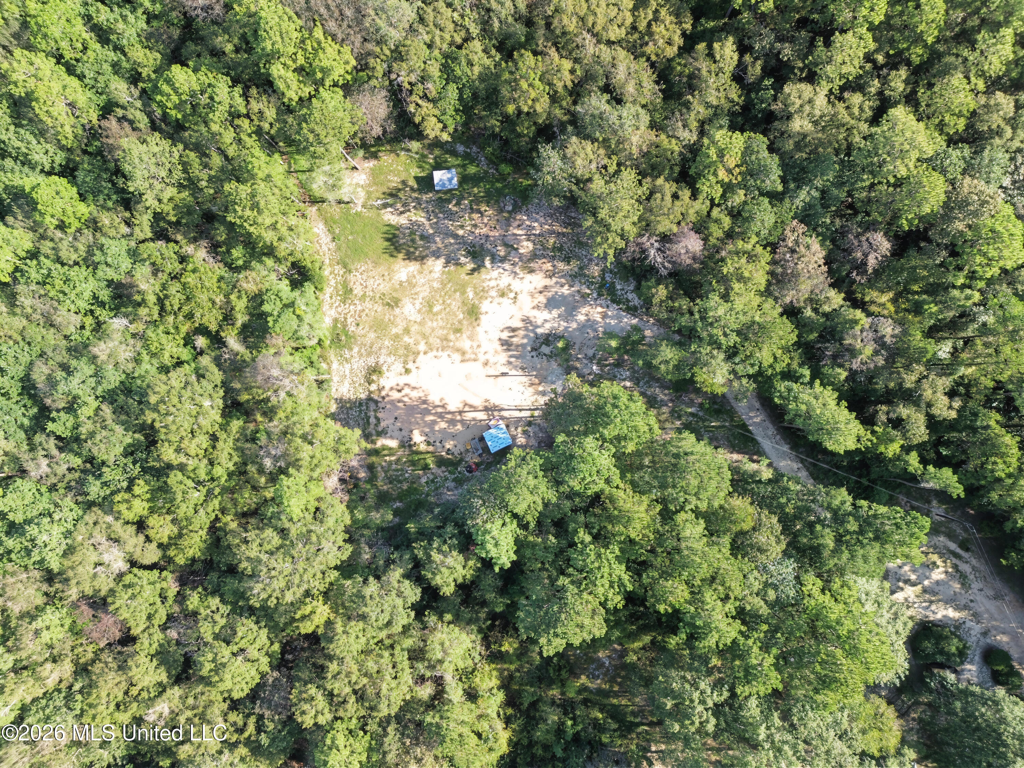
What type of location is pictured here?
forest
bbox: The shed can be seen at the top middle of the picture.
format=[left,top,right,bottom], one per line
[434,169,458,193]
